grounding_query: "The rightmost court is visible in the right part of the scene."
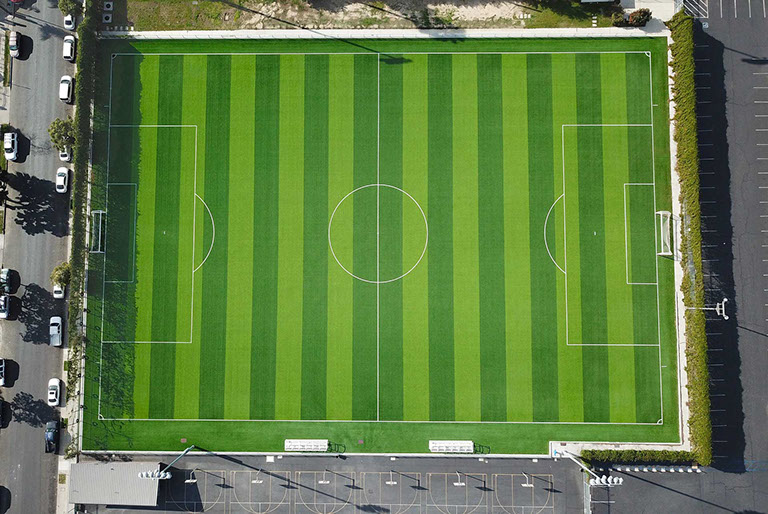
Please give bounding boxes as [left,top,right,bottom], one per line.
[492,473,554,514]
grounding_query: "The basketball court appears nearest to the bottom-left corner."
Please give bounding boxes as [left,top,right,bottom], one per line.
[164,470,226,514]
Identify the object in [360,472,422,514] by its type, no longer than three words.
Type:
basketball court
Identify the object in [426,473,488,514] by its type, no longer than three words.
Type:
basketball court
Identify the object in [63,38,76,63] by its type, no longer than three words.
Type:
vehicle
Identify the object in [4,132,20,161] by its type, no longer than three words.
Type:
vehicle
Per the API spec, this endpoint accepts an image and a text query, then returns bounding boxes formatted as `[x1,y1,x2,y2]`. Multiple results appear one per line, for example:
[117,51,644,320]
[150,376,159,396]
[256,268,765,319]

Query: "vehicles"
[0,399,7,428]
[57,168,71,194]
[49,377,62,405]
[0,357,9,385]
[50,315,65,347]
[59,143,72,166]
[53,276,67,300]
[46,419,61,452]
[10,33,25,61]
[64,14,78,39]
[63,38,76,63]
[60,77,74,104]
[4,132,20,161]
[0,295,12,321]
[0,267,14,294]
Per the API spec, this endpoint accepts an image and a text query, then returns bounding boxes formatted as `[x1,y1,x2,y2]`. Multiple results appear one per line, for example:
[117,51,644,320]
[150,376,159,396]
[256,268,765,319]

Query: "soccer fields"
[80,36,680,456]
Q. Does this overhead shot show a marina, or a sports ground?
sports ground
